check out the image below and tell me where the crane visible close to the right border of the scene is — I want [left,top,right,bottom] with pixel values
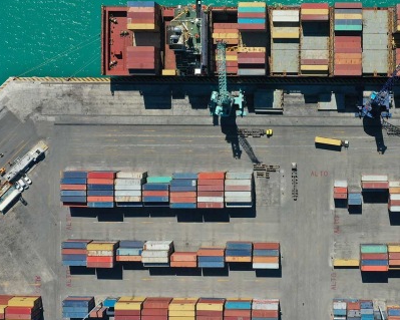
[356,67,400,121]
